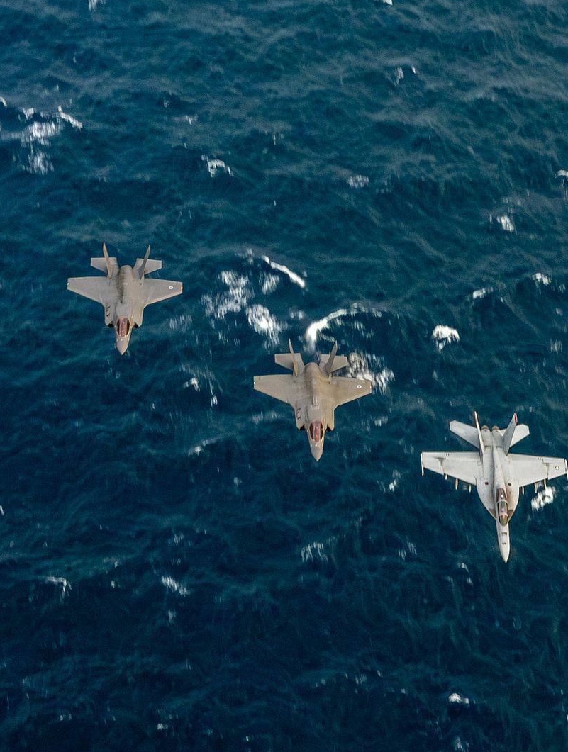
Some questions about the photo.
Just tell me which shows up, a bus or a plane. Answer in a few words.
plane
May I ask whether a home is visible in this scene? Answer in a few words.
No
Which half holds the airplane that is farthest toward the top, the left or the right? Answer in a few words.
left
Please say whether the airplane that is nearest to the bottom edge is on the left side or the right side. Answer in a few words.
right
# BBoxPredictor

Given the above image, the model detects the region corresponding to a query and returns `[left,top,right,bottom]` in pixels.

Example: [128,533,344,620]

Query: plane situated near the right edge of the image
[421,413,568,562]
